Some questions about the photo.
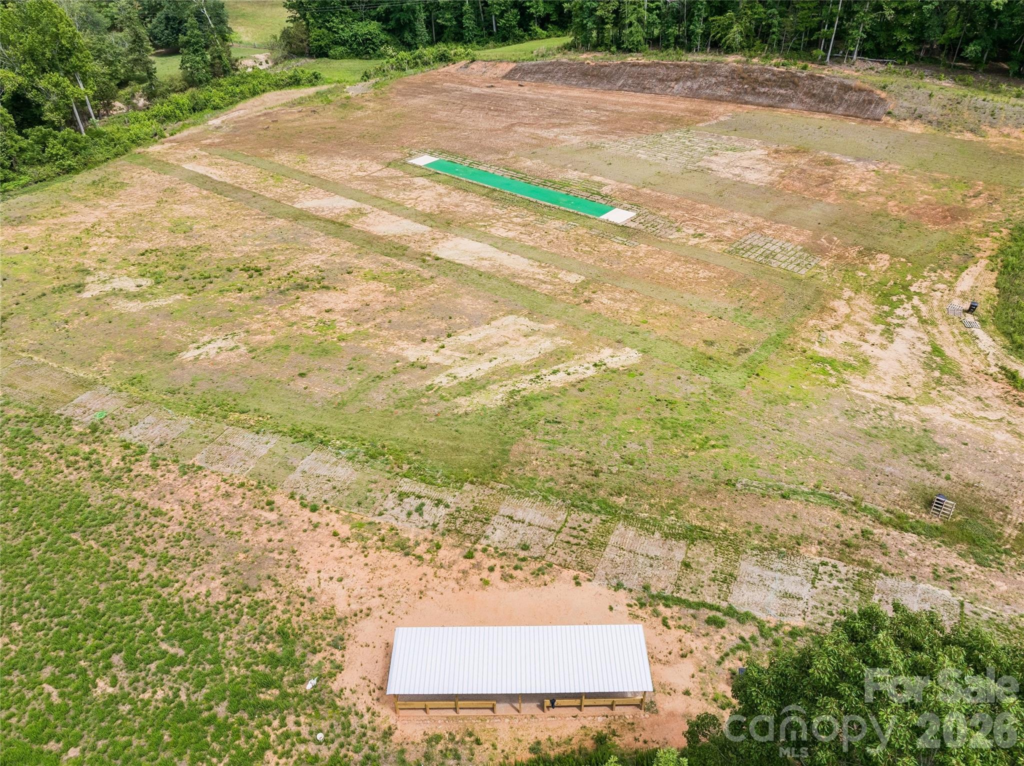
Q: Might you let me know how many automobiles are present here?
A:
0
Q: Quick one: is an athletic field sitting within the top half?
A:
Yes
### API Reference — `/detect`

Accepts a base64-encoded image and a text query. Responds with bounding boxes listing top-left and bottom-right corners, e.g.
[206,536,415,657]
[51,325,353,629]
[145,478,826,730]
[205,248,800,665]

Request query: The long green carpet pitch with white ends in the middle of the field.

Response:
[404,153,639,225]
